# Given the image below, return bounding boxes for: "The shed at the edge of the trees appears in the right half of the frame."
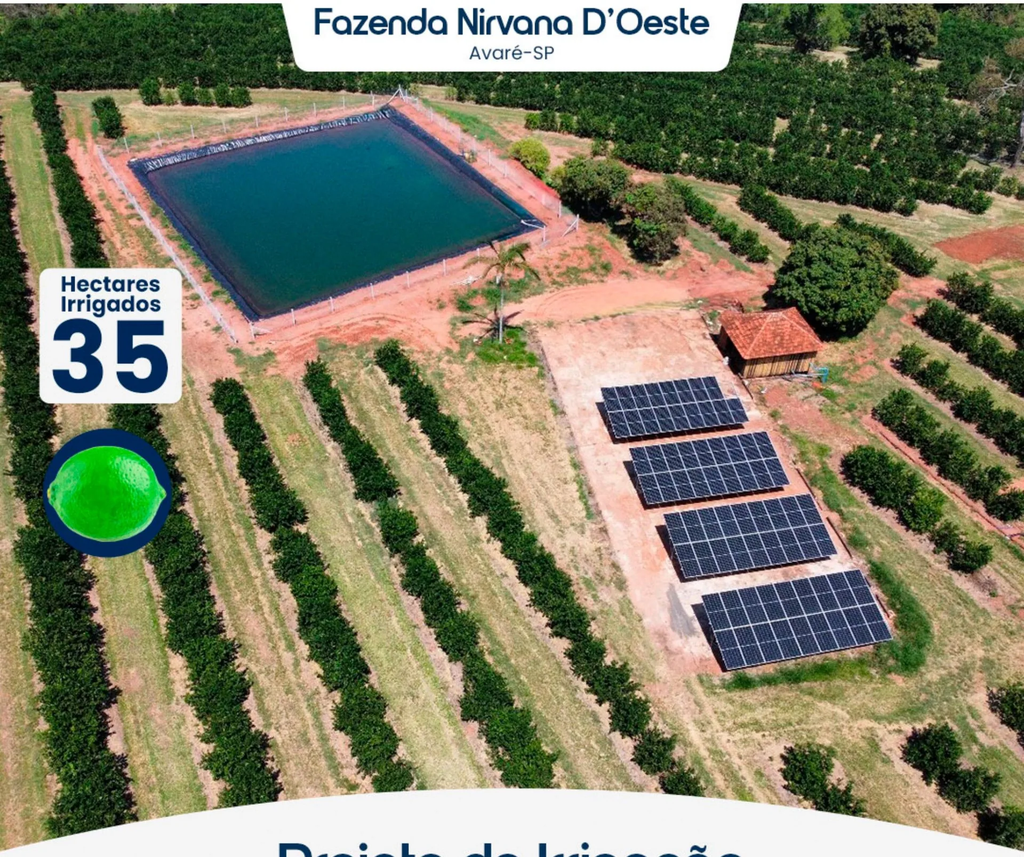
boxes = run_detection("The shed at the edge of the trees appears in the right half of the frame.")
[719,307,828,377]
